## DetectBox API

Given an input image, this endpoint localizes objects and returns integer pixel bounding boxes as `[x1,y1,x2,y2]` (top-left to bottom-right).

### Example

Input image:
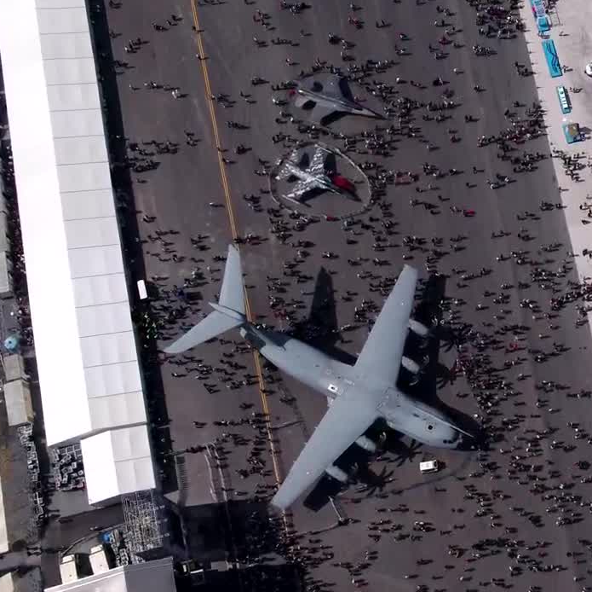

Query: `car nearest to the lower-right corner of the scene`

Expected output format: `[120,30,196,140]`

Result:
[420,459,440,474]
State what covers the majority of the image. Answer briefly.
paved ground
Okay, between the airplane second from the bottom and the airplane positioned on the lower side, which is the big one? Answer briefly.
the airplane positioned on the lower side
